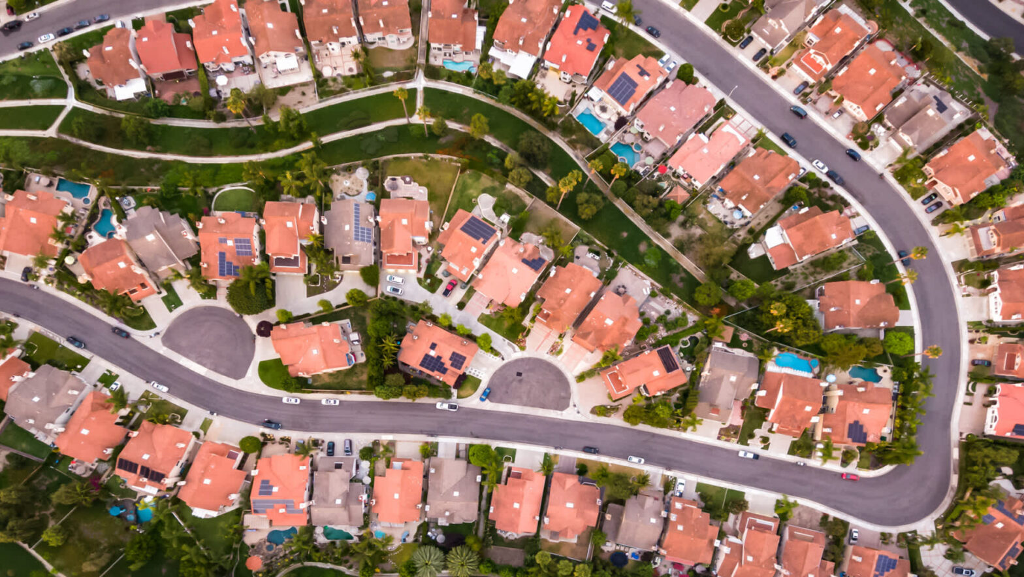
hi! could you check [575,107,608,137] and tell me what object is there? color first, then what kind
blue swimming pool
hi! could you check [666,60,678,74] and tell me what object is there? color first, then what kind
white vehicle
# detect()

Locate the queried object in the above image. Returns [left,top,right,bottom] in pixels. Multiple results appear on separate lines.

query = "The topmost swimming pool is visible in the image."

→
[443,59,478,75]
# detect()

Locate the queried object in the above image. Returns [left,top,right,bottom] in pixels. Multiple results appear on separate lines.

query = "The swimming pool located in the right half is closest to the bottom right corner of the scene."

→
[848,365,885,384]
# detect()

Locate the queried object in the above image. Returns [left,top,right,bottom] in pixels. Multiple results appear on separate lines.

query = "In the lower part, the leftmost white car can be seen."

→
[108,378,122,394]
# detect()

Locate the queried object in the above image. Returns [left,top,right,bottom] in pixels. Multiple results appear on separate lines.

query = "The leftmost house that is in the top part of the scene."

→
[0,190,76,258]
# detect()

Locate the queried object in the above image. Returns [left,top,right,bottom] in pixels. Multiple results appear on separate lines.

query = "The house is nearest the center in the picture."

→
[474,235,549,313]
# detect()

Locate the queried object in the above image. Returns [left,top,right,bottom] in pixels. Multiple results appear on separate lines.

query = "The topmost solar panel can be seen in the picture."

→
[574,11,599,34]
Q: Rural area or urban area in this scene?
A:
urban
